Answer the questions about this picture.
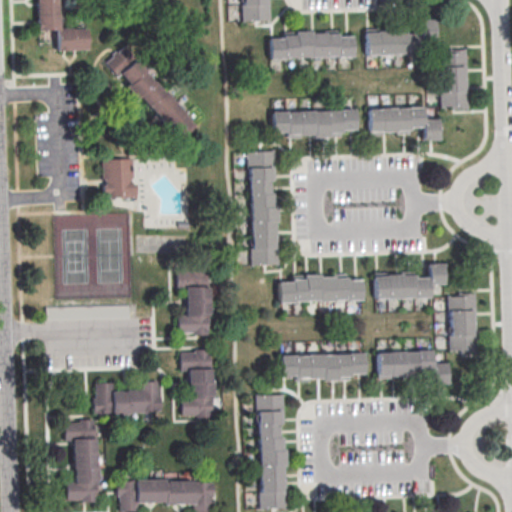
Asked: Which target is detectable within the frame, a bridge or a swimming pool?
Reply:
swimming pool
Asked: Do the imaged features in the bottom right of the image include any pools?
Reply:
No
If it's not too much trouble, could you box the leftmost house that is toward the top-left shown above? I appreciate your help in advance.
[38,0,93,51]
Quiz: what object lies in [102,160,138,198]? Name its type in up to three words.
house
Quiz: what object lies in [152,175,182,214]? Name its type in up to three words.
swimming pool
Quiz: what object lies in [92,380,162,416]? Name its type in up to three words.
house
